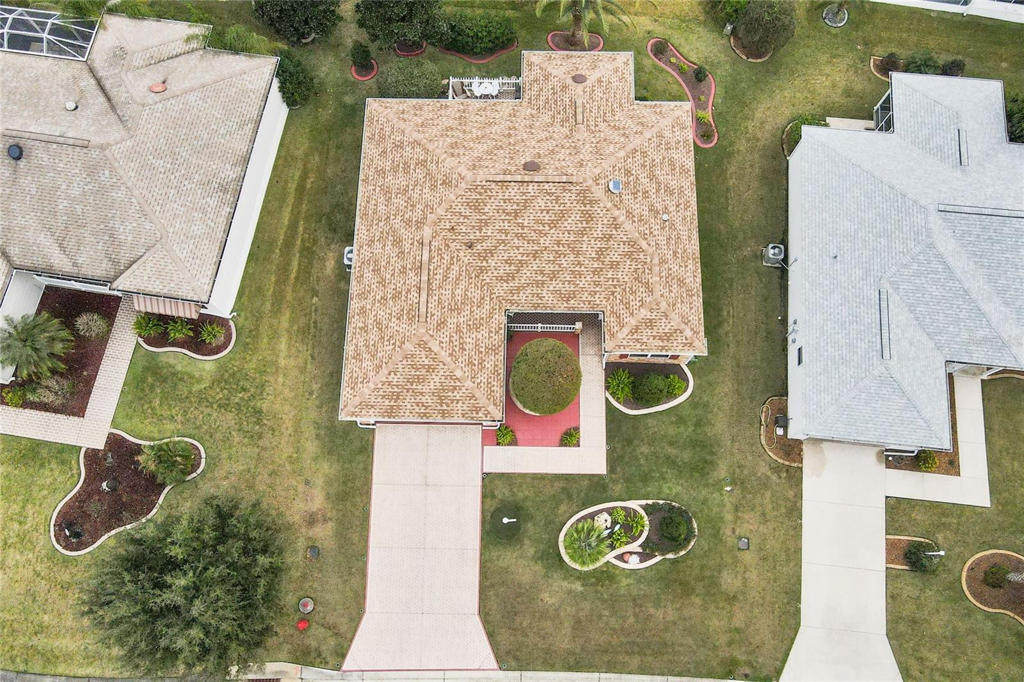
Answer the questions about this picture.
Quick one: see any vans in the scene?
No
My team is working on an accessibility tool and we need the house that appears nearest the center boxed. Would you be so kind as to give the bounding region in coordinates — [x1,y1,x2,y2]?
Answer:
[338,50,710,430]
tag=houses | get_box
[338,50,710,430]
[785,69,1024,458]
[0,10,288,388]
[864,0,1024,26]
